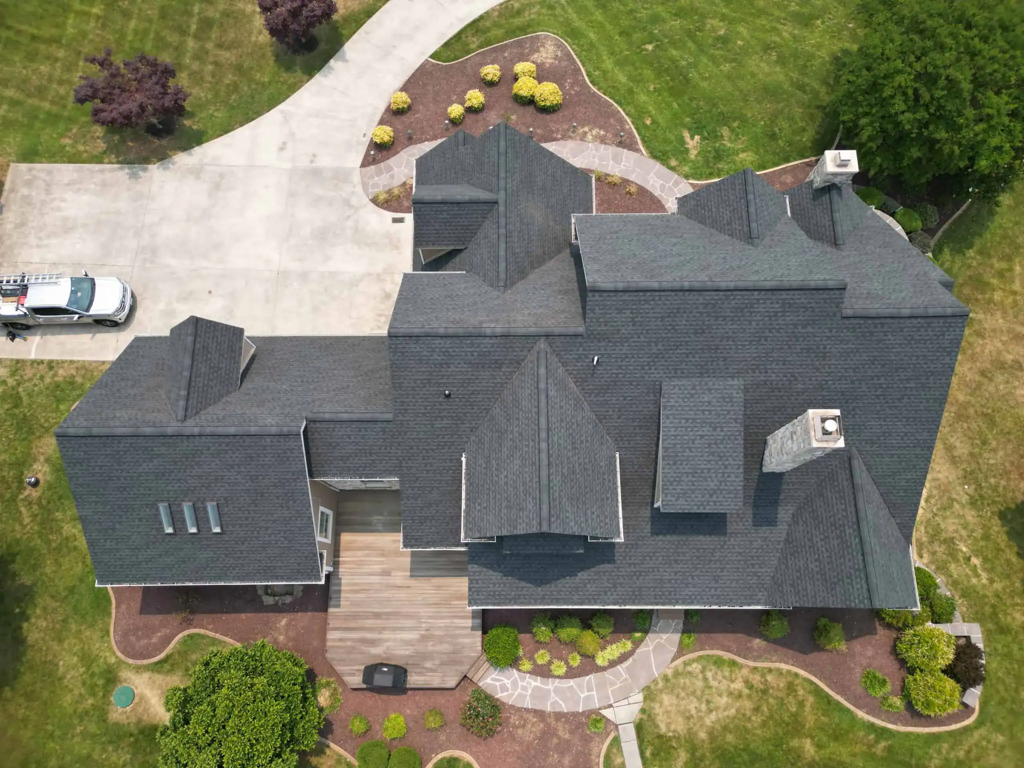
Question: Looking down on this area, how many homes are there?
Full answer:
Altogether the scene contains 1 home.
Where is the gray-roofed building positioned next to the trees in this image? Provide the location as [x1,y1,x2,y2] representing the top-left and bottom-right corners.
[52,118,972,610]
